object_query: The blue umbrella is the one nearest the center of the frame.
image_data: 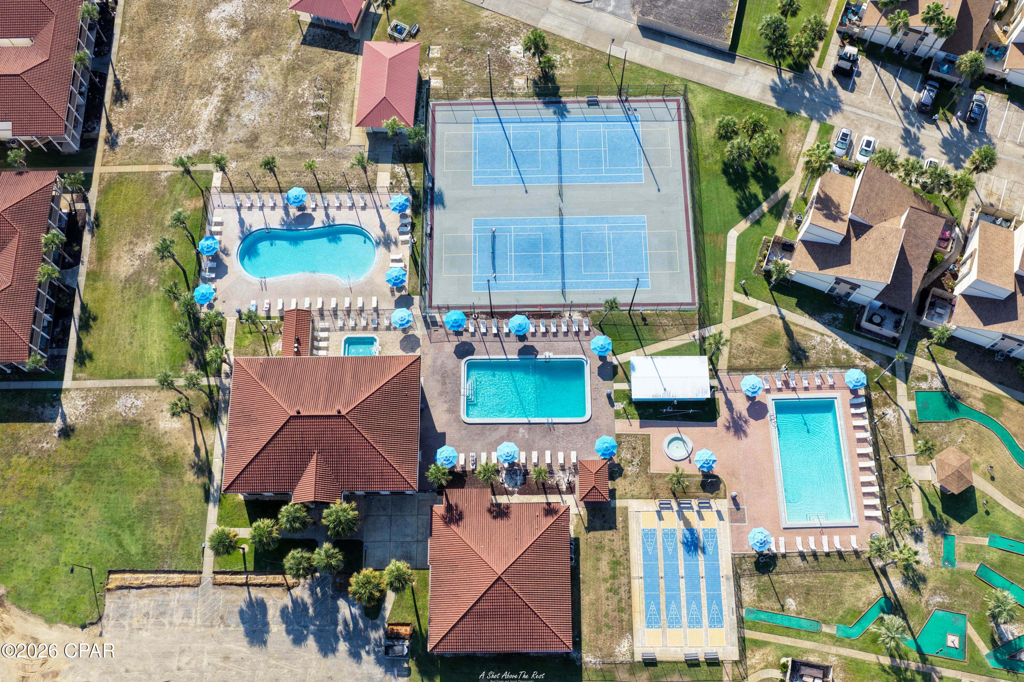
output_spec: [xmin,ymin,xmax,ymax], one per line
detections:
[508,315,528,334]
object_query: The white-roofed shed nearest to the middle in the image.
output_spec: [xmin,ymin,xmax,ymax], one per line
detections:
[630,356,714,401]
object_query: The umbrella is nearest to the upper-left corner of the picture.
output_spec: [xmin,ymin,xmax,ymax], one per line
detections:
[199,237,220,255]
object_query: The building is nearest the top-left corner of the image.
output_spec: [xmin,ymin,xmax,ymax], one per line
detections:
[0,0,101,152]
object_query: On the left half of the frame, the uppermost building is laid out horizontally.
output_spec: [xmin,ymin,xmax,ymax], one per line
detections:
[289,0,369,34]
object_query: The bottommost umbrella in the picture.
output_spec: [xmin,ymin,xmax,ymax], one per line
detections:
[749,528,771,550]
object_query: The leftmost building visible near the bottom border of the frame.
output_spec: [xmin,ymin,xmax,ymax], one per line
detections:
[426,494,574,653]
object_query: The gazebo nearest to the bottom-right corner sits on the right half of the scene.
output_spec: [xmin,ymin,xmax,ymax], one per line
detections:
[930,446,974,497]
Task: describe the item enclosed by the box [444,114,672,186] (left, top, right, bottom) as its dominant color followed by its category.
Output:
blue tennis court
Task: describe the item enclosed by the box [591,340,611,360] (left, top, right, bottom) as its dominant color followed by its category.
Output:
blue umbrella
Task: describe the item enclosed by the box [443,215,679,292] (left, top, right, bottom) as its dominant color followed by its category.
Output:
blue tennis court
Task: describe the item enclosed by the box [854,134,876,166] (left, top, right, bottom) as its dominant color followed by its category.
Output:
white car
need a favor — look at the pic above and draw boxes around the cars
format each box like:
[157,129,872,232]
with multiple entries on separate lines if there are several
[833,126,853,159]
[918,158,941,190]
[965,94,987,125]
[854,134,876,166]
[917,81,939,113]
